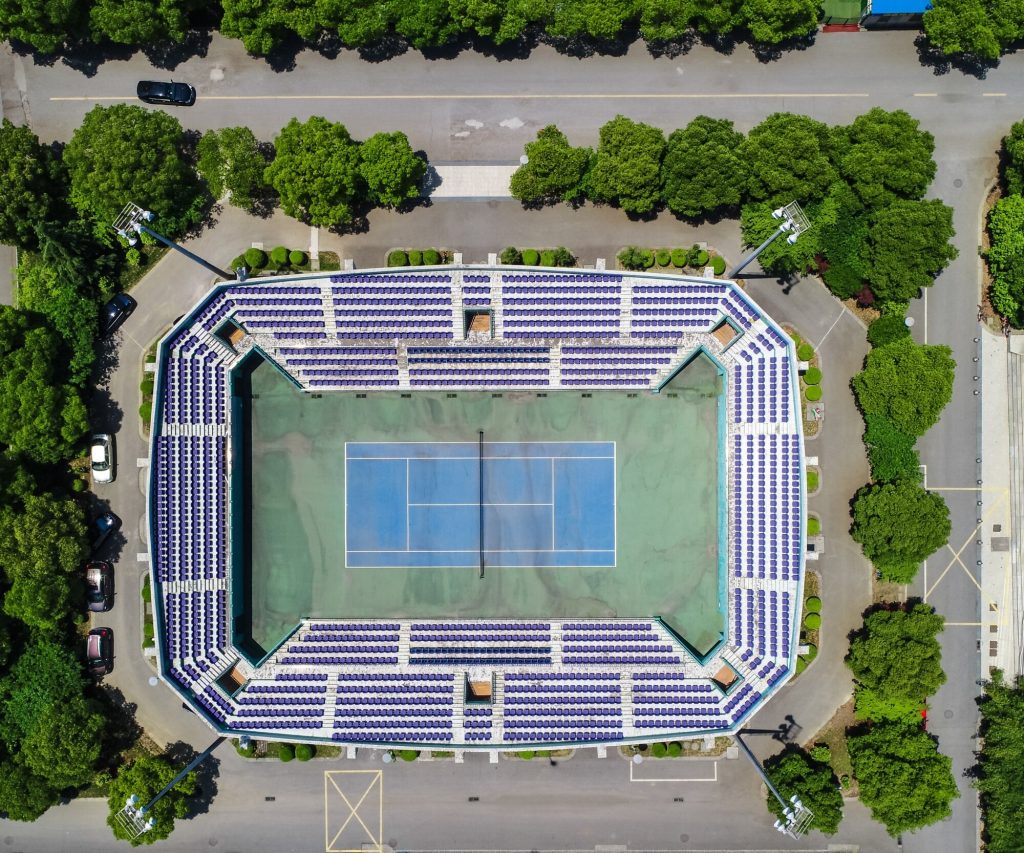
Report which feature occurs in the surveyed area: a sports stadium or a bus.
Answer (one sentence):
This aerial view contains a sports stadium.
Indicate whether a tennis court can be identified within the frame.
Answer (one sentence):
Yes, the photo shows a tennis court.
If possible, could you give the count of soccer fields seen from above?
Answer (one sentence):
Not a single soccer field can be seen.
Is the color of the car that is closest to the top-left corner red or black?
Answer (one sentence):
The color of the car that is closest to the top-left corner is black.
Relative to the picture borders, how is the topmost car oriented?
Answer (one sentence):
I'd say the topmost car is aligned horizontally in the picture.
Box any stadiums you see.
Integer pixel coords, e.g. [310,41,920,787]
[137,253,819,762]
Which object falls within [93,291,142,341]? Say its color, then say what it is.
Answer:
black car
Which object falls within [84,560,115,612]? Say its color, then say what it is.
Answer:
black car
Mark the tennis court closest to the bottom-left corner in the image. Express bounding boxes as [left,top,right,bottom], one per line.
[243,355,719,654]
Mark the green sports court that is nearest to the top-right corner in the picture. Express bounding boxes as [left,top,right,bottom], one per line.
[821,0,861,31]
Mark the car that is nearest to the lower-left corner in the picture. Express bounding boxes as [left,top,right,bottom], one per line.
[85,625,115,675]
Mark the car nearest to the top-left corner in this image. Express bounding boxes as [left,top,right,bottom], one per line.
[139,79,197,109]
